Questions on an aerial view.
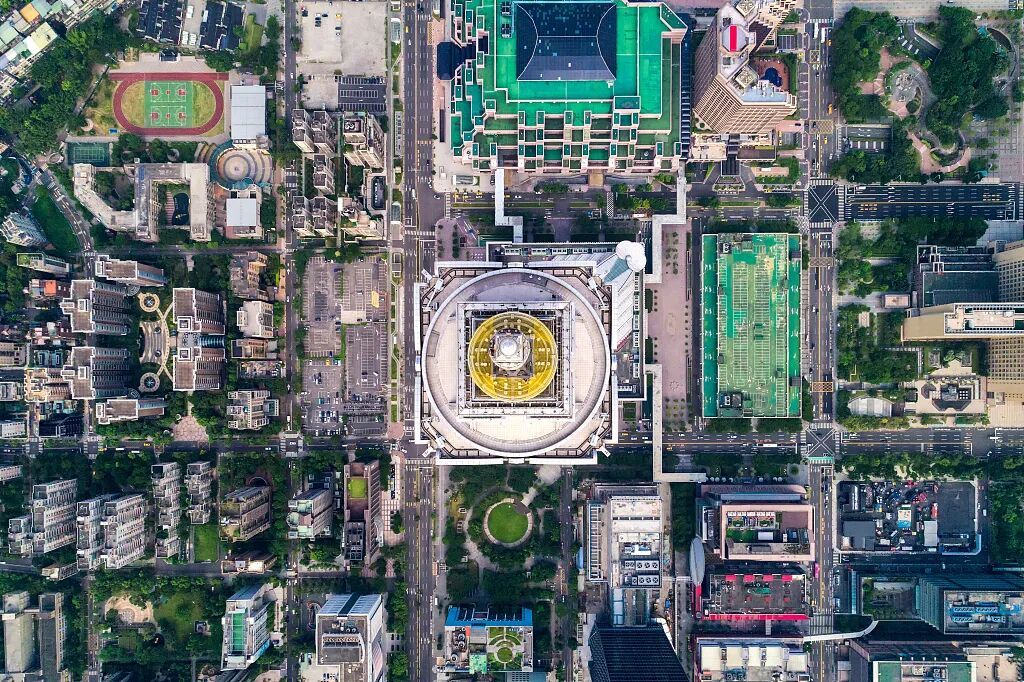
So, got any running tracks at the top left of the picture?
Yes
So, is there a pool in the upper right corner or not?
Yes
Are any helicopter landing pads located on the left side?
No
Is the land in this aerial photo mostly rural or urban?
urban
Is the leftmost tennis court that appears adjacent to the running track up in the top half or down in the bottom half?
top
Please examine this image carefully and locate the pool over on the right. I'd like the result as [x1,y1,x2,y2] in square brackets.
[755,58,789,94]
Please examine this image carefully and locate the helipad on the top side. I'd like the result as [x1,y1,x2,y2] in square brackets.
[721,25,748,54]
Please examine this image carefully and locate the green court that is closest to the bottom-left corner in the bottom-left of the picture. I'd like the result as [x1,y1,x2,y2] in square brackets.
[230,612,248,654]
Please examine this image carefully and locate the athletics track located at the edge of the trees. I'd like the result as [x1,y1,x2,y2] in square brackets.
[109,73,229,135]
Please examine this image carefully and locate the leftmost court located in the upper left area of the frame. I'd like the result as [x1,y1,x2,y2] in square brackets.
[65,142,111,165]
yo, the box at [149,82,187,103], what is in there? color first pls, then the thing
green basketball court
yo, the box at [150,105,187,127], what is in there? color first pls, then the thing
green basketball court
